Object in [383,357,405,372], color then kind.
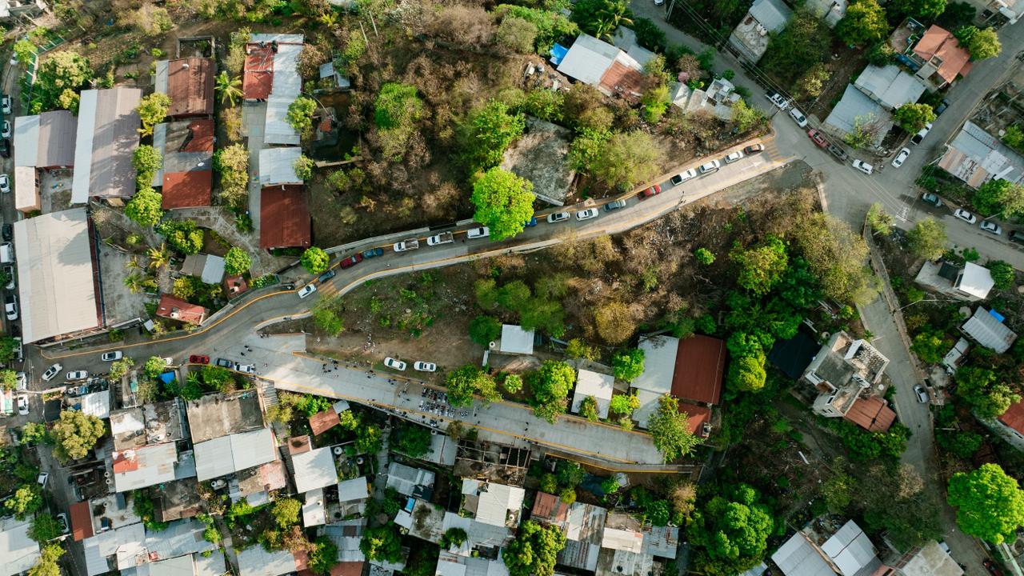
white car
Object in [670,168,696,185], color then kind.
white vehicle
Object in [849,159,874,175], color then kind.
white car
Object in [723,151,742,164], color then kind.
white vehicle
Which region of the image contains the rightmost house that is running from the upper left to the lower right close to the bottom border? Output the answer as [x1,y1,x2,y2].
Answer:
[812,514,896,576]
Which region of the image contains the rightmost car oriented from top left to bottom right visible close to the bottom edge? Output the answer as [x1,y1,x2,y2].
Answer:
[982,556,1002,576]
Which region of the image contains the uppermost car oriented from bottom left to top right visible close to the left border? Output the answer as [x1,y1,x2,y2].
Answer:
[41,363,62,381]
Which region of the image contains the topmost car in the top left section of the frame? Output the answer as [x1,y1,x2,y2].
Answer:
[8,52,21,71]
